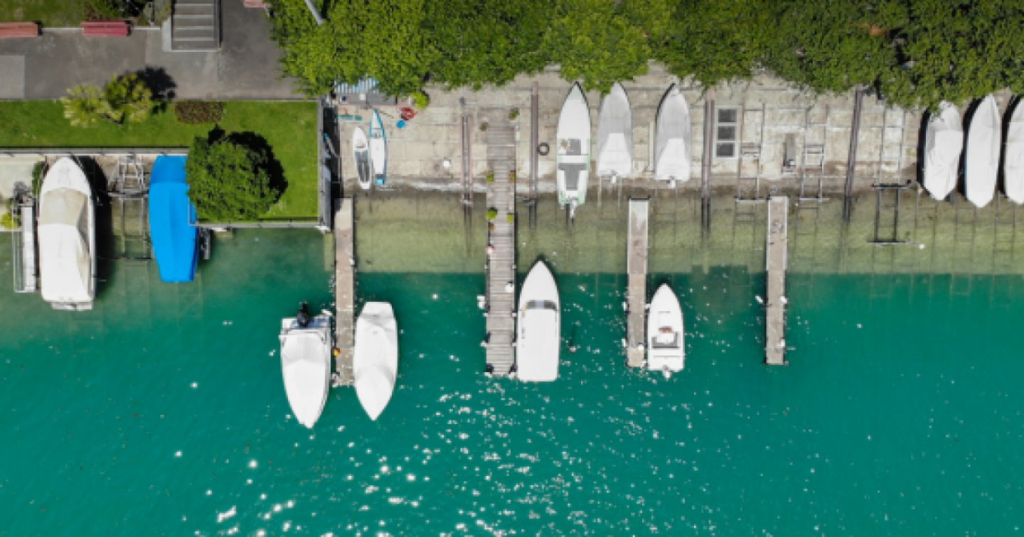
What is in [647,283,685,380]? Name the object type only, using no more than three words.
boat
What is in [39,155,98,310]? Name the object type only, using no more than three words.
boat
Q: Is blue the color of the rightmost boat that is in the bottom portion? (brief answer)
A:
No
